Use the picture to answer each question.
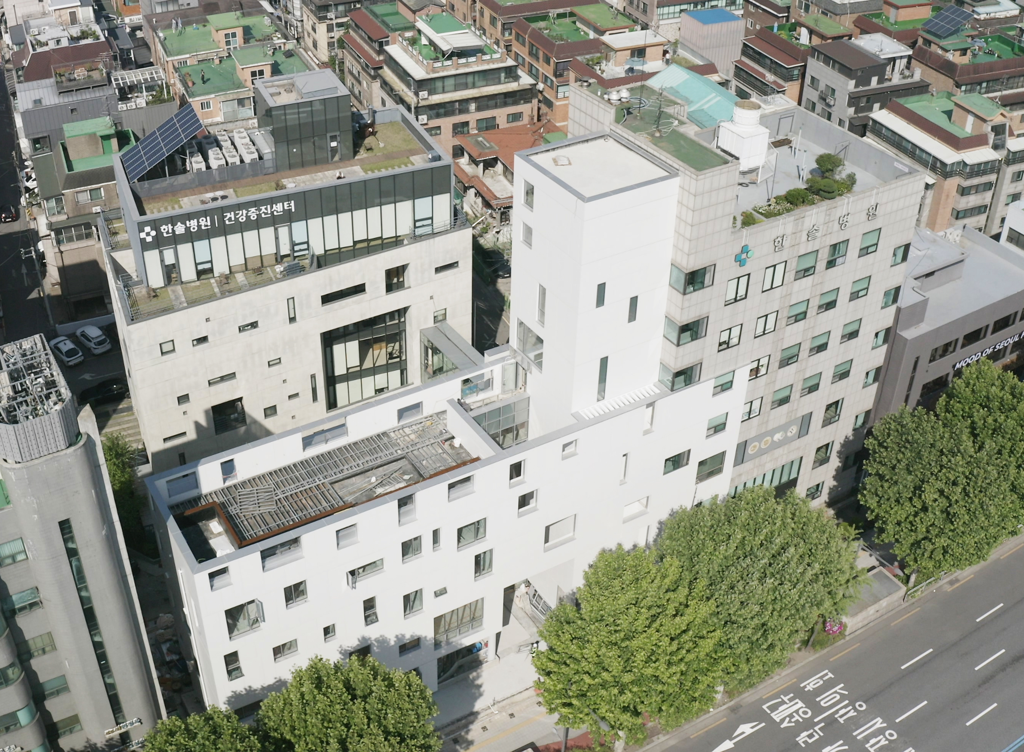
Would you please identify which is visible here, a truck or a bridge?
bridge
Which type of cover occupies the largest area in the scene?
buildings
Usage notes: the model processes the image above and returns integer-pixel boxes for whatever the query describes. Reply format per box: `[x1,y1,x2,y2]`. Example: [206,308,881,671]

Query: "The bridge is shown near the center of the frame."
[420,322,485,397]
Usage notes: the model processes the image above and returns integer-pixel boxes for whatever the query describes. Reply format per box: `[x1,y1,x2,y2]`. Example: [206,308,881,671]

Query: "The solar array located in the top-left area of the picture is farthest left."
[122,103,204,191]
